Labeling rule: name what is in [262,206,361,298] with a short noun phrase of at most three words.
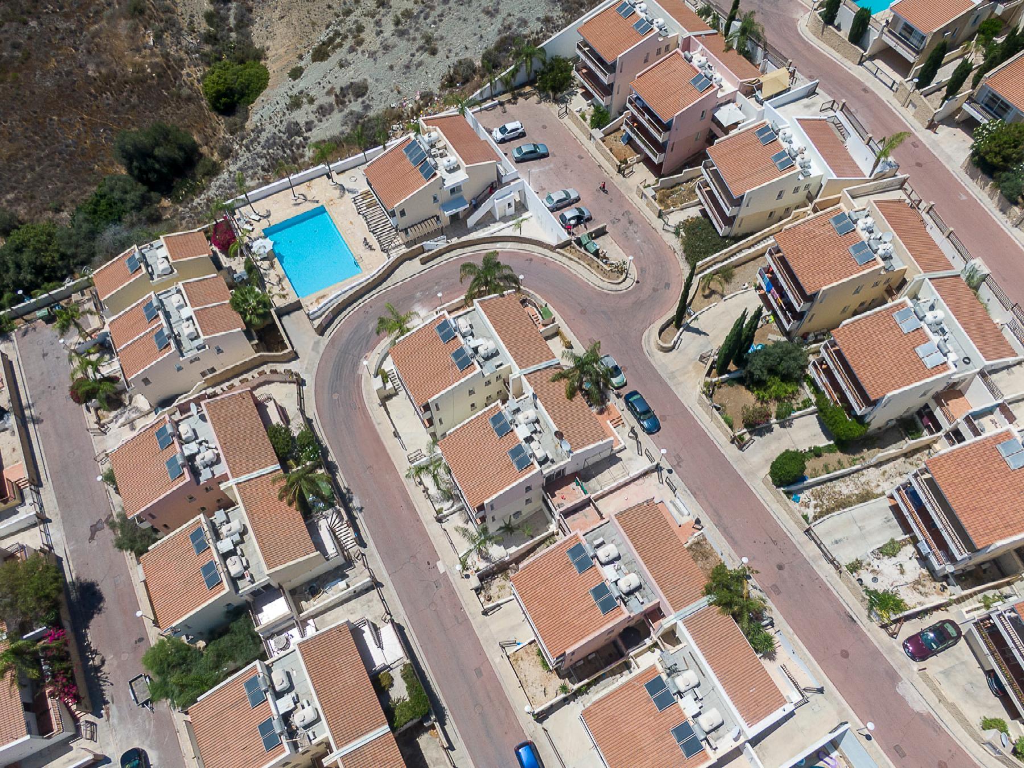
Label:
swimming pool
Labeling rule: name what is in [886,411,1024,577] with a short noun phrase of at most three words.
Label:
house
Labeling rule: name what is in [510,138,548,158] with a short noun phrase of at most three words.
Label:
car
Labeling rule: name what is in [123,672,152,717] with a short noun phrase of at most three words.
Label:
trailer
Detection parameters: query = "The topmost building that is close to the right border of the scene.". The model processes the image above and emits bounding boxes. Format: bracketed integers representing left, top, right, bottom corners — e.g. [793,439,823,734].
[875,0,1019,78]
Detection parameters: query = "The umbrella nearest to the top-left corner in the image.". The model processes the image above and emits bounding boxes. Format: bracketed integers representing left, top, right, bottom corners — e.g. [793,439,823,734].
[243,231,269,257]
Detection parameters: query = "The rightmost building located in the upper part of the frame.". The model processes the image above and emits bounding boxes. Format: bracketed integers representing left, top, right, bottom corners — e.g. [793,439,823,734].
[964,60,1024,149]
